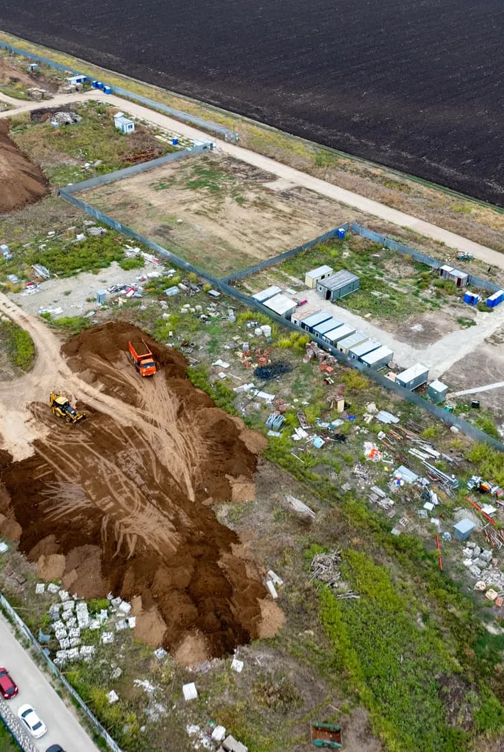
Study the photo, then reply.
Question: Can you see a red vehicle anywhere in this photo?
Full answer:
Yes, the frame does contain a red vehicle.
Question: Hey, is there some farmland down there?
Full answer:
Yes, some farmland is visible.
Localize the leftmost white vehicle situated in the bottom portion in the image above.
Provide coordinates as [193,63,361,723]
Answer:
[17,704,48,741]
